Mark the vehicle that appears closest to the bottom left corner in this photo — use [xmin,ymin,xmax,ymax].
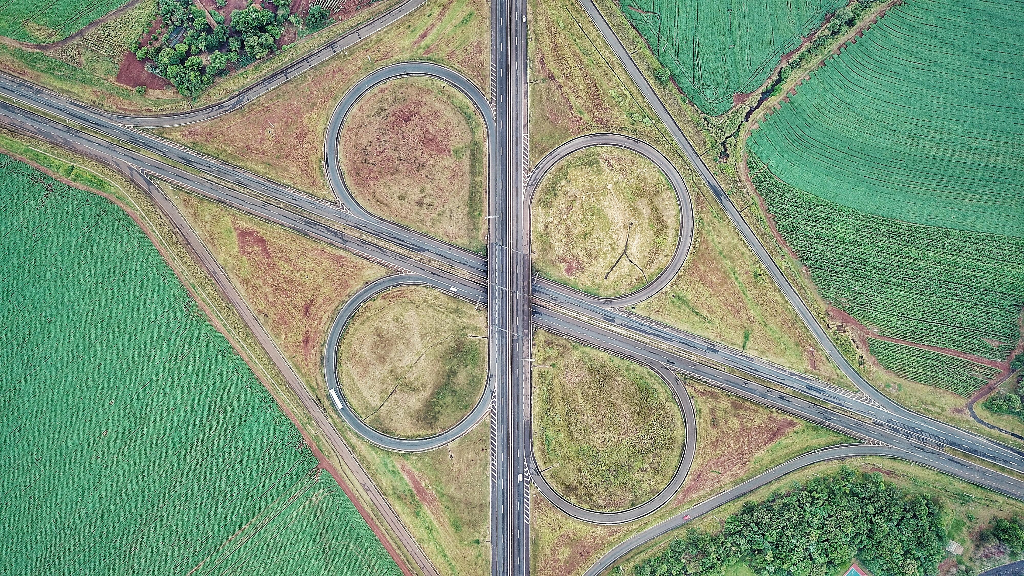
[330,389,344,411]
